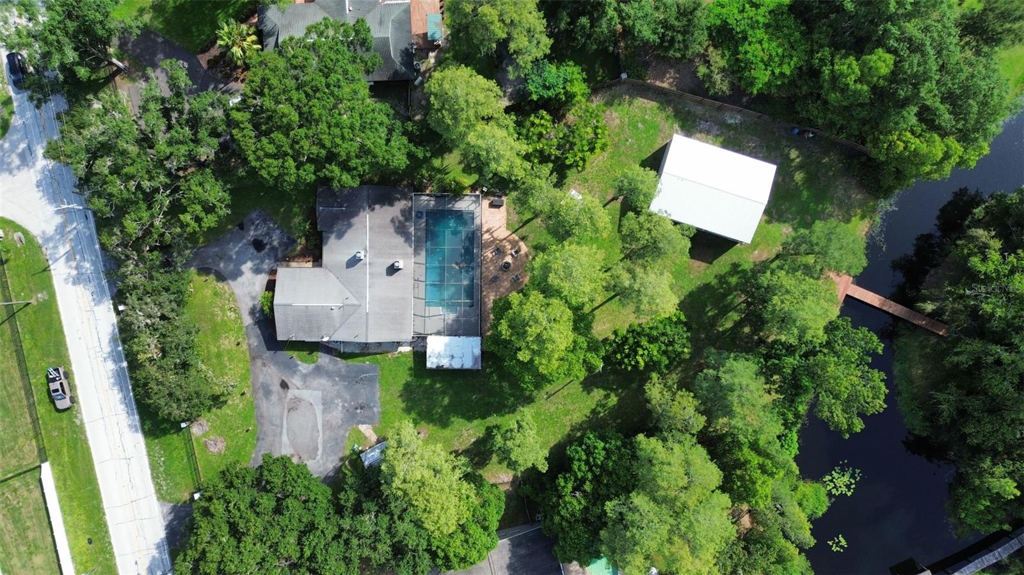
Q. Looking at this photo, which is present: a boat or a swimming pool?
swimming pool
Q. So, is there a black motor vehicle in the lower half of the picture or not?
No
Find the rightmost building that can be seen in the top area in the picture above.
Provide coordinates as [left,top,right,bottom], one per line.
[646,134,776,245]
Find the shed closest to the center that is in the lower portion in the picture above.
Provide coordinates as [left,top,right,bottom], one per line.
[427,337,481,370]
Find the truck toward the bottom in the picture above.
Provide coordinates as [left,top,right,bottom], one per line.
[48,365,79,411]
